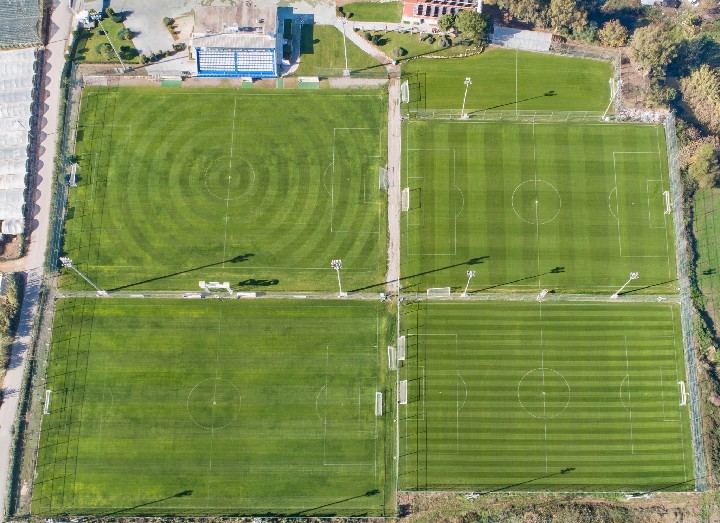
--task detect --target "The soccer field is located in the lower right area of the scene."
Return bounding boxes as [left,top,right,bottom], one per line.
[398,302,698,490]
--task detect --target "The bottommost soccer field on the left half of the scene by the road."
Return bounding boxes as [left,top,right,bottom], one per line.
[31,299,396,517]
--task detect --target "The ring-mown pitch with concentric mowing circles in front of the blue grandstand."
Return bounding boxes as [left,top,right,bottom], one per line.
[58,87,390,291]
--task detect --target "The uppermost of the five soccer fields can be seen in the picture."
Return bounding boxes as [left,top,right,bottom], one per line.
[401,46,614,113]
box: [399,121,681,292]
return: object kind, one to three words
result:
soccer field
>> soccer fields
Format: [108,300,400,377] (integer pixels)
[401,46,614,113]
[398,302,698,490]
[58,87,390,291]
[399,121,681,292]
[31,299,396,517]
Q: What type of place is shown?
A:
sports ground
